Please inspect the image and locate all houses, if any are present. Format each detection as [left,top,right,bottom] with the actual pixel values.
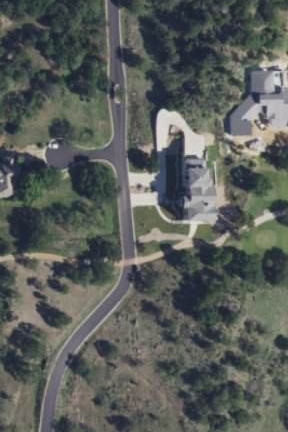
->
[184,160,218,223]
[230,71,288,136]
[0,156,14,198]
